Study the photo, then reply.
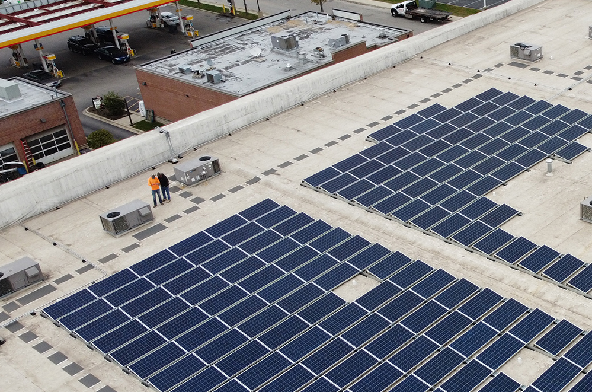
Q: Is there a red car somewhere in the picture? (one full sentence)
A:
No, no red car can be seen from above.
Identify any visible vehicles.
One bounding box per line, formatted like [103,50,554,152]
[90,23,129,43]
[154,9,182,26]
[20,64,62,84]
[92,43,131,62]
[61,31,102,53]
[389,0,458,22]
